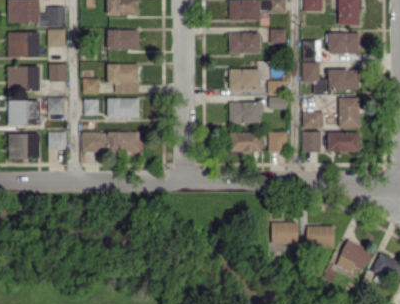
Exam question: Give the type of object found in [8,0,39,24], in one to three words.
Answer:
house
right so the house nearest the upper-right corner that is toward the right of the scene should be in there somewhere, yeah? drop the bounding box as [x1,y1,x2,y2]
[338,0,362,26]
